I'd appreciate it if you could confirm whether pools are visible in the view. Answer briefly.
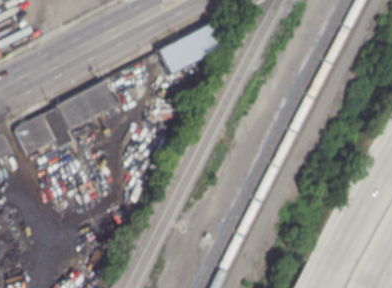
No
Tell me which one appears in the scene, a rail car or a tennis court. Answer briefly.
rail car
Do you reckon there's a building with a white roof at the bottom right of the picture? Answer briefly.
No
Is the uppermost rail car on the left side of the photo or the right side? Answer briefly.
right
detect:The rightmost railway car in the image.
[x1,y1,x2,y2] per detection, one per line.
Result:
[344,0,366,30]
